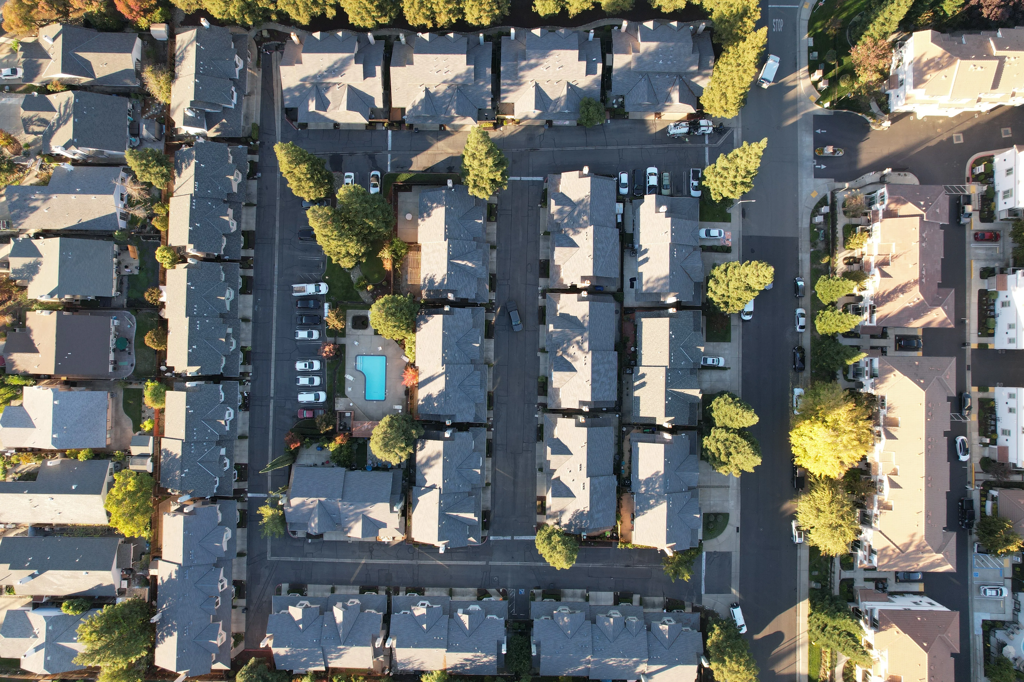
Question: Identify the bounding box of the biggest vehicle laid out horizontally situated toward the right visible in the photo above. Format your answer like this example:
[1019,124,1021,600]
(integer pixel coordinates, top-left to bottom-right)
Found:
[663,118,720,137]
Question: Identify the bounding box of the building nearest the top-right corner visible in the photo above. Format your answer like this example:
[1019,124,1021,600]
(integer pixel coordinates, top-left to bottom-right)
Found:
[885,30,1024,113]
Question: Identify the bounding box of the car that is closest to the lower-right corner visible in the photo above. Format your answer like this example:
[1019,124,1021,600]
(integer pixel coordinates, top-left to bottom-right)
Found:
[980,585,1007,599]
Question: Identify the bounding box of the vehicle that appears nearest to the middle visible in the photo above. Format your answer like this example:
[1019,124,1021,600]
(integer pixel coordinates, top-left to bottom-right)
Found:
[506,300,522,332]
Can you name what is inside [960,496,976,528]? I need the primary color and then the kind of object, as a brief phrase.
black vehicle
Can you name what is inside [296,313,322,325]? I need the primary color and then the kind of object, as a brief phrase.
black vehicle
